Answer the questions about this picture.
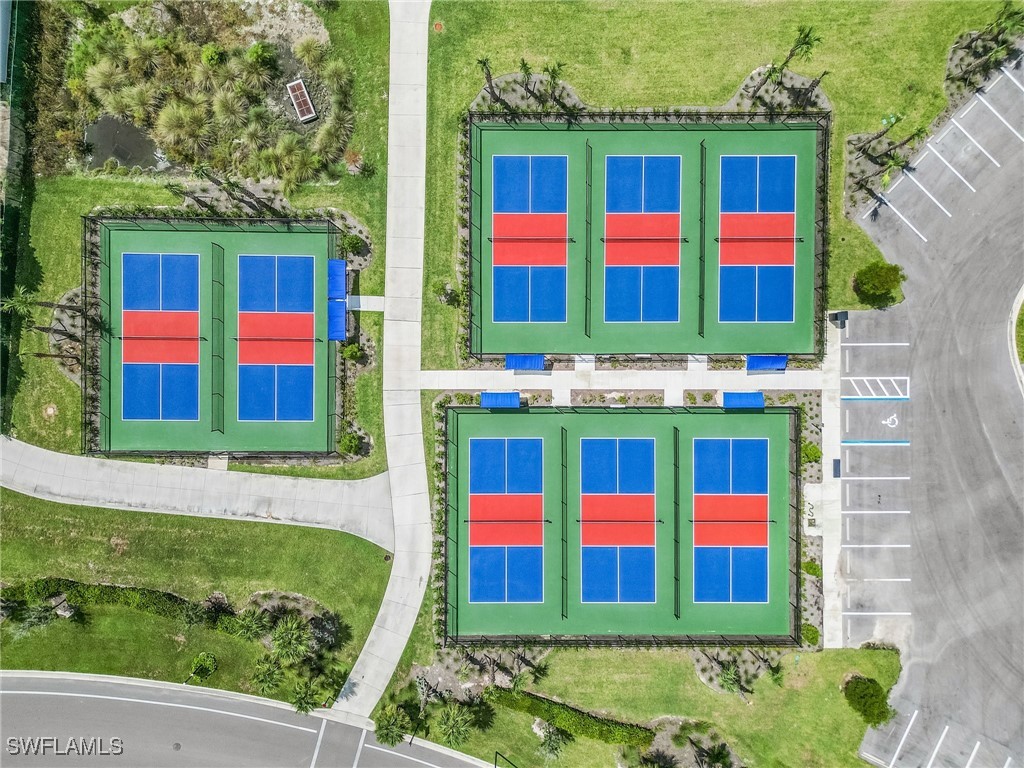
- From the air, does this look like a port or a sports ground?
sports ground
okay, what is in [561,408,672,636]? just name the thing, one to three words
sports court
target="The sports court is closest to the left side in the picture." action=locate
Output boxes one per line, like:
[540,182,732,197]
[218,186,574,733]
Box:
[99,222,218,451]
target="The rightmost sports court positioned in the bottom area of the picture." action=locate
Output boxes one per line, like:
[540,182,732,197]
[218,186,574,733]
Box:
[671,408,790,636]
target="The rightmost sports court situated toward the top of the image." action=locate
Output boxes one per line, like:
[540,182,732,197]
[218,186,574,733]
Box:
[697,123,816,352]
